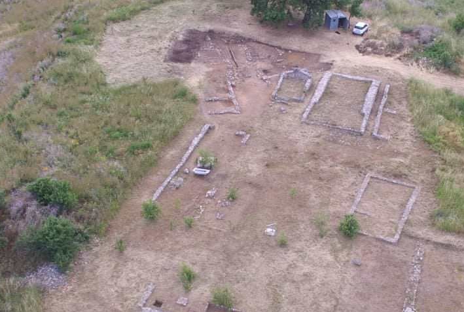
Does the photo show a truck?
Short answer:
No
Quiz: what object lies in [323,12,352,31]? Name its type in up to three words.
shed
